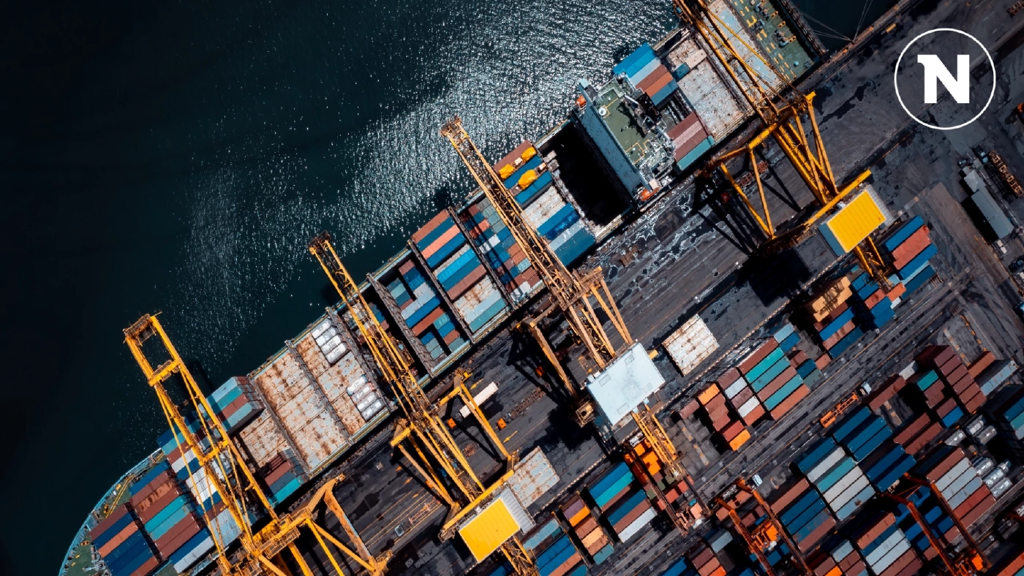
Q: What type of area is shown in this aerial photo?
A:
port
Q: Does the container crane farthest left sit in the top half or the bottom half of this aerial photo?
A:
bottom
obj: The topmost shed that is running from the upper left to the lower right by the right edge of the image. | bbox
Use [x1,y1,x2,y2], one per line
[953,168,1018,240]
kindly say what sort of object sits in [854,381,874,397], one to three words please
vehicle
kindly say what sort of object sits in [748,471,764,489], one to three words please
vehicle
